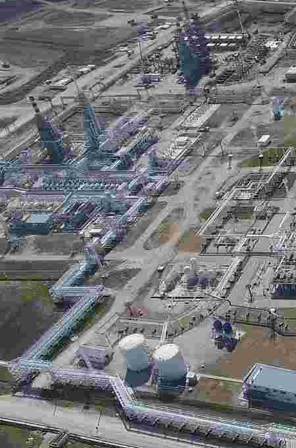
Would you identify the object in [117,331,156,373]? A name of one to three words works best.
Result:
storage tank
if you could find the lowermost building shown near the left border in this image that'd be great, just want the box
[7,210,61,234]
